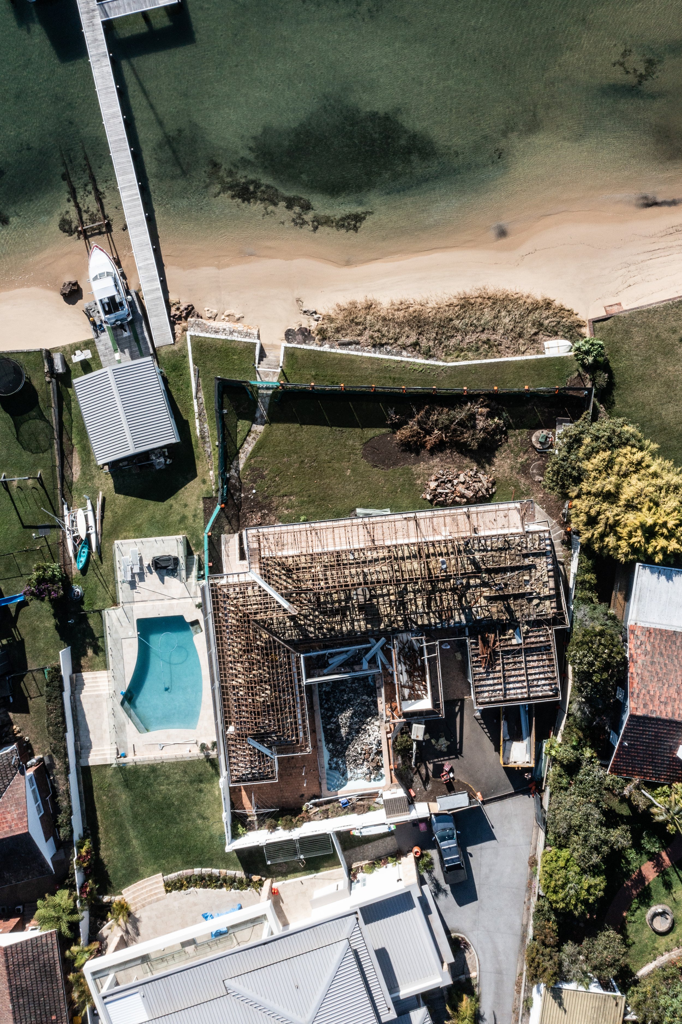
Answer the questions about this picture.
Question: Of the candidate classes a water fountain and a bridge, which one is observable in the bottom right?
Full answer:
The feature located in the bottom right is a water fountain.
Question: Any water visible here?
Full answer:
Yes, water can be seen from above here.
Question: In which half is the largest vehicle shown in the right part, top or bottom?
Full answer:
The largest vehicle shown in the right part sits in the bottom half of the picture.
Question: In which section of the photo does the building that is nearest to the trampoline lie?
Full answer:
You can find the building that is nearest to the trampoline in the left area of the picture.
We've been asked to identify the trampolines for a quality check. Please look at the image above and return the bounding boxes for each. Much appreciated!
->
[0,352,28,400]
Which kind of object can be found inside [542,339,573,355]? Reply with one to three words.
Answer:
boat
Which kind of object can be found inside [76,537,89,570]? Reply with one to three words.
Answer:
boat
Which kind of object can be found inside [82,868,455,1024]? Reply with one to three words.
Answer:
house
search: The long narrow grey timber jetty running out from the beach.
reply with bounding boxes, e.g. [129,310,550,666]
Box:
[74,0,174,347]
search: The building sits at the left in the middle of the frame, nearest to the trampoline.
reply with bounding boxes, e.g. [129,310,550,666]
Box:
[72,355,179,466]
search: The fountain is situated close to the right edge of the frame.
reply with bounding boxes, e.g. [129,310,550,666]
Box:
[647,905,673,932]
